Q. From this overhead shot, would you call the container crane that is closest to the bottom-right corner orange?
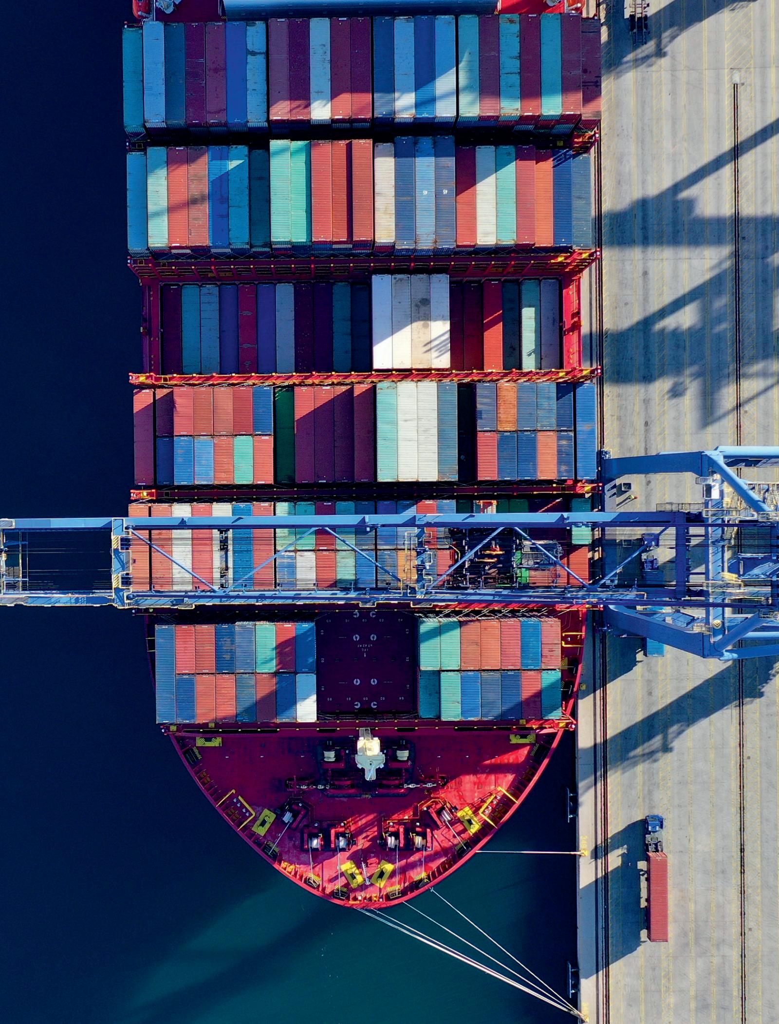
No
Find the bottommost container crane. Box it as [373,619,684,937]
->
[0,438,779,663]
